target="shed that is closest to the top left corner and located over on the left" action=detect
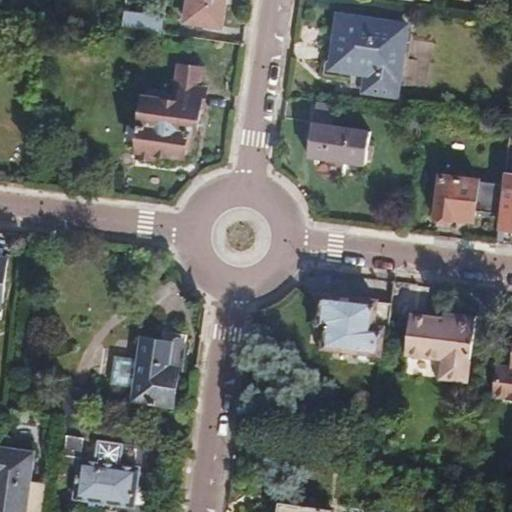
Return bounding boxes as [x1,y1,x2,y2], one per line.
[122,11,164,32]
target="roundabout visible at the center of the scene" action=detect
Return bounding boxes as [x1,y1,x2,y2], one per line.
[172,168,310,304]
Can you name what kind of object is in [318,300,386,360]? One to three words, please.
house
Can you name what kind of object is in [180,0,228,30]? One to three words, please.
house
